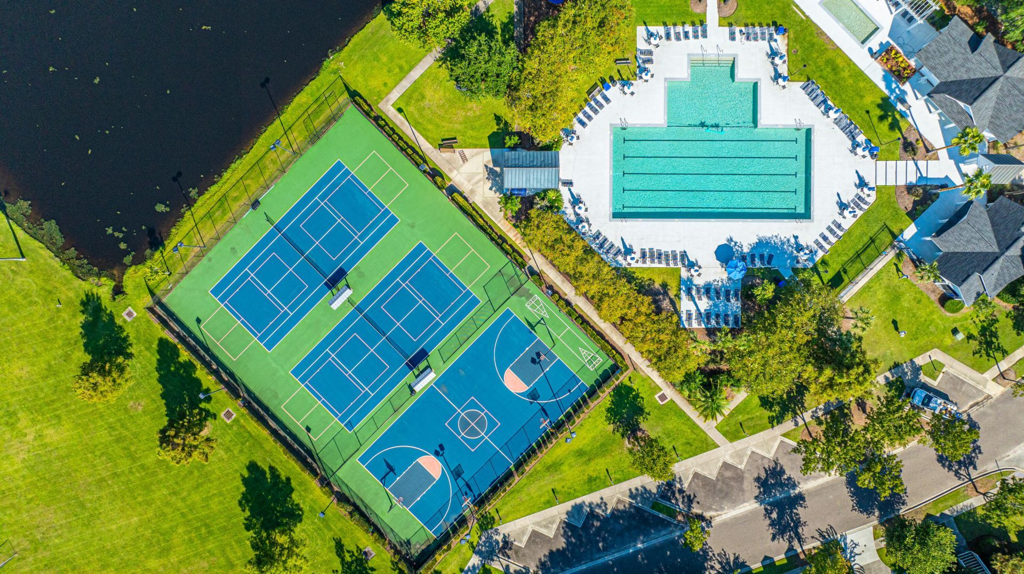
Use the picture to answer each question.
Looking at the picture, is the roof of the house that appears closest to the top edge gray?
Yes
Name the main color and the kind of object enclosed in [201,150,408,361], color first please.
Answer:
blue tennis court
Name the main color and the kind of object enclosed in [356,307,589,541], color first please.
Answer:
blue basketball court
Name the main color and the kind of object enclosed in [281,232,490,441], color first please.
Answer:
blue tennis court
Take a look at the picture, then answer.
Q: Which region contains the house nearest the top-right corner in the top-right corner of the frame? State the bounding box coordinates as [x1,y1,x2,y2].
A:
[910,8,1024,145]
